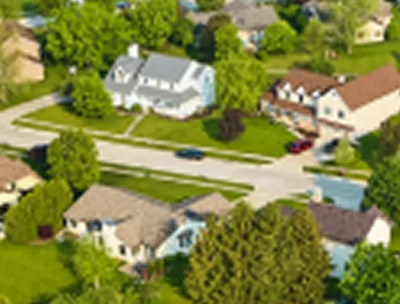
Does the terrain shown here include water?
No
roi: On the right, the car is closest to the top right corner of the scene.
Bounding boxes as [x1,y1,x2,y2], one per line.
[322,138,343,156]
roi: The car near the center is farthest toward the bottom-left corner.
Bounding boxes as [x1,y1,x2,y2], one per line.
[174,147,205,162]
